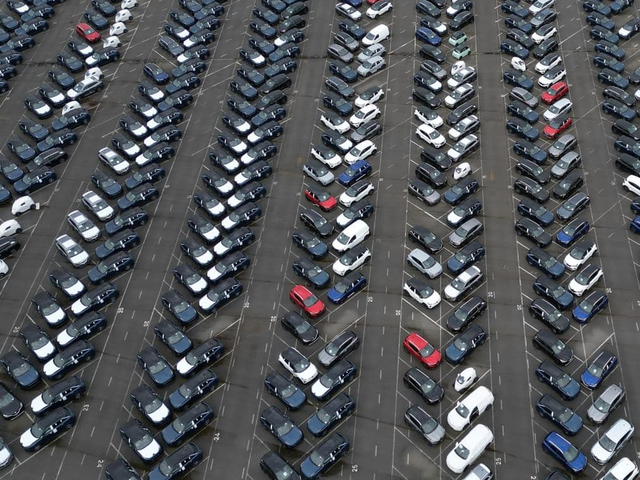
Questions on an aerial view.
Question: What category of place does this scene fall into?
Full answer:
This image shows a parking lot.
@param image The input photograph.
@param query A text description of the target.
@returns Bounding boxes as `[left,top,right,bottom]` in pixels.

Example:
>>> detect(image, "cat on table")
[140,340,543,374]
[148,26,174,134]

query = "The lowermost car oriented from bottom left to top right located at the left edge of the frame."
[20,405,79,453]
